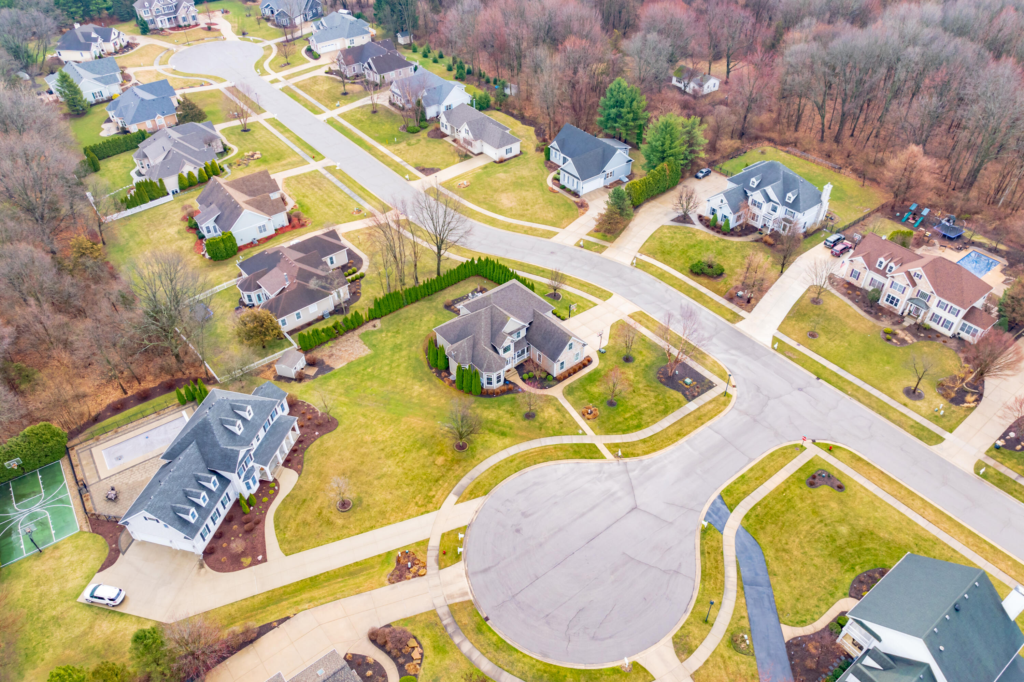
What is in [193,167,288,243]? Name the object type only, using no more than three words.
house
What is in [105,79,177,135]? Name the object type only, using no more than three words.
house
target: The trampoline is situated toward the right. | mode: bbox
[932,215,968,242]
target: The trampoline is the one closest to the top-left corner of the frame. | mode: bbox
[188,304,216,325]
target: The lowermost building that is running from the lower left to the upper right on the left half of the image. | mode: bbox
[116,378,301,554]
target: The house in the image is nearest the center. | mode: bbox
[432,278,589,386]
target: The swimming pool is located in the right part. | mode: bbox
[957,250,1001,278]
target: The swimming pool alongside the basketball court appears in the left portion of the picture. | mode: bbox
[101,416,186,469]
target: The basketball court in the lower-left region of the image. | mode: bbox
[0,465,81,568]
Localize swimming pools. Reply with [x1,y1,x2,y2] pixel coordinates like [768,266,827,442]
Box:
[101,416,186,469]
[957,250,1001,278]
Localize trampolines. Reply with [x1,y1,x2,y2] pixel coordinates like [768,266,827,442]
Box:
[932,215,968,242]
[188,304,216,325]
